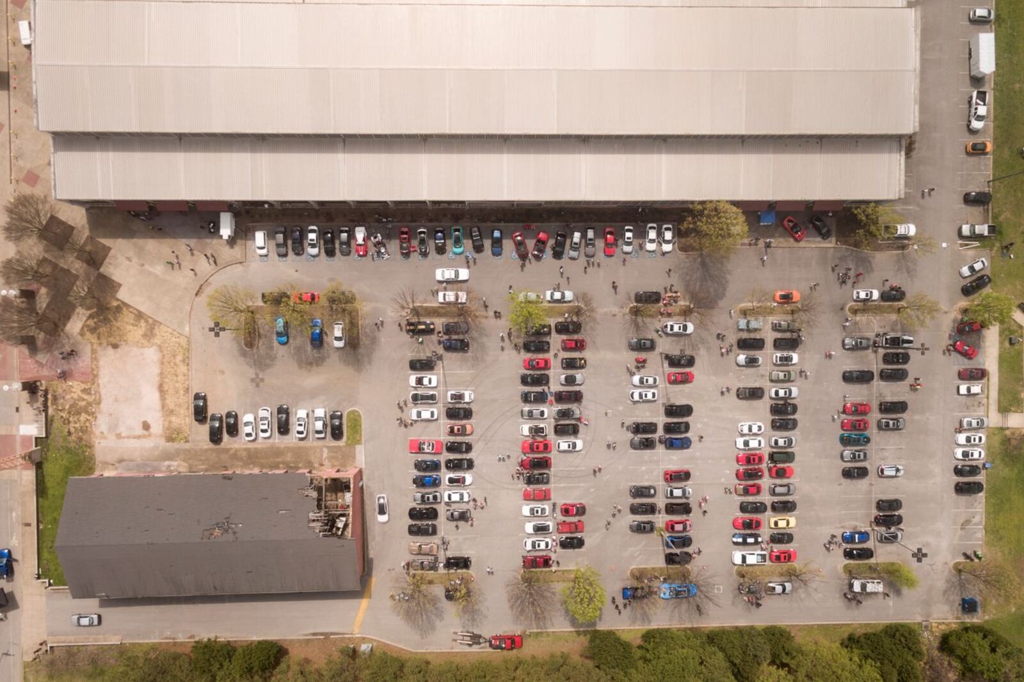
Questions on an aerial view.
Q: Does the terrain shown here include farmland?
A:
No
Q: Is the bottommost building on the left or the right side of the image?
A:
left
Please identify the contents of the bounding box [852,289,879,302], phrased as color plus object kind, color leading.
white vehicle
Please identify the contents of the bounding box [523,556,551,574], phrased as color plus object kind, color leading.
red vehicle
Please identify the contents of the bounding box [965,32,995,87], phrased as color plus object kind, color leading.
white trailer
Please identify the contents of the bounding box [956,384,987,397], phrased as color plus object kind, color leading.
white vehicle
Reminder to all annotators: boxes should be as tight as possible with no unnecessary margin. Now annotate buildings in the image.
[56,465,365,596]
[34,0,919,213]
